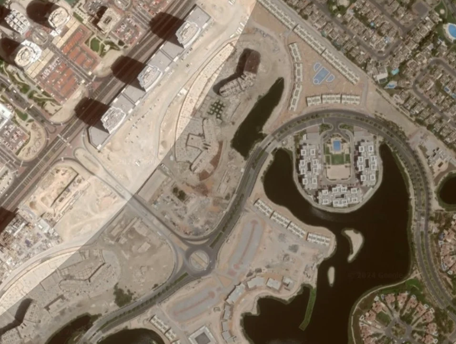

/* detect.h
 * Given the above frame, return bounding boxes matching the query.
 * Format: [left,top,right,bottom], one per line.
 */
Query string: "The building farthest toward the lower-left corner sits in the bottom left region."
[1,307,38,339]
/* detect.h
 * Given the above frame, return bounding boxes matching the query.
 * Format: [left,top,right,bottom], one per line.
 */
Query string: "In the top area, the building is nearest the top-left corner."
[5,8,35,35]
